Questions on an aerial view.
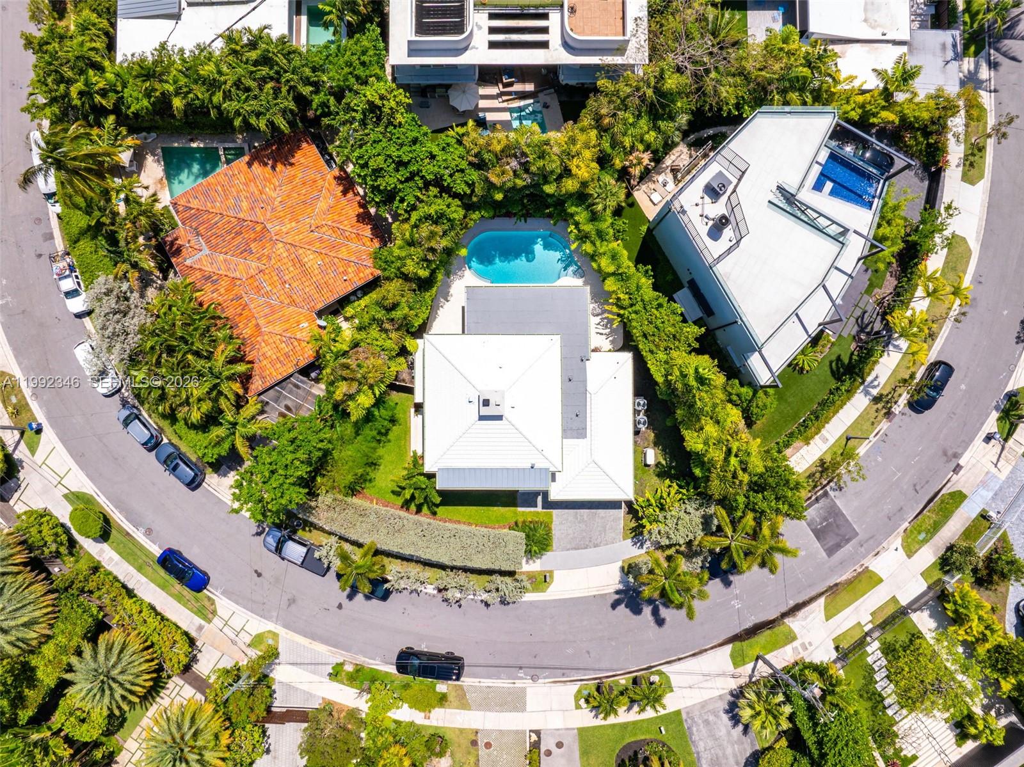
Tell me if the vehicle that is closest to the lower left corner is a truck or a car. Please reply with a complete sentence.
I'd say the vehicle that is closest to the lower left corner is a car.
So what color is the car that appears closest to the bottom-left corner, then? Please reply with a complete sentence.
The car that appears closest to the bottom-left corner is blue.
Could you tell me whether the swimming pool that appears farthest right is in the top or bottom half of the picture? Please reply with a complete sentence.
The swimming pool that appears farthest right sits in the top half of the picture.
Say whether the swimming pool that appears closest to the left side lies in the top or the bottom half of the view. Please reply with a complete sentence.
Seen from above, the swimming pool that appears closest to the left side lies in the top half of the view.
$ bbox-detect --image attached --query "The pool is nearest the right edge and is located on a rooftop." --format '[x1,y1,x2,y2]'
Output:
[812,159,872,208]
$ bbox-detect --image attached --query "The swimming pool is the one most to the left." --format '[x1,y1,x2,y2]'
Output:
[158,143,227,203]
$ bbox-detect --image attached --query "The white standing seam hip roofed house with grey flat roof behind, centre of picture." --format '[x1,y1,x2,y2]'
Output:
[411,286,635,509]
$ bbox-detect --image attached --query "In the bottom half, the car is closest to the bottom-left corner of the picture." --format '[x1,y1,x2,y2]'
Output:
[156,542,213,593]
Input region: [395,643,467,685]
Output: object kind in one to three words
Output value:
car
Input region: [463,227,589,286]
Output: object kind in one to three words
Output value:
swimming pool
